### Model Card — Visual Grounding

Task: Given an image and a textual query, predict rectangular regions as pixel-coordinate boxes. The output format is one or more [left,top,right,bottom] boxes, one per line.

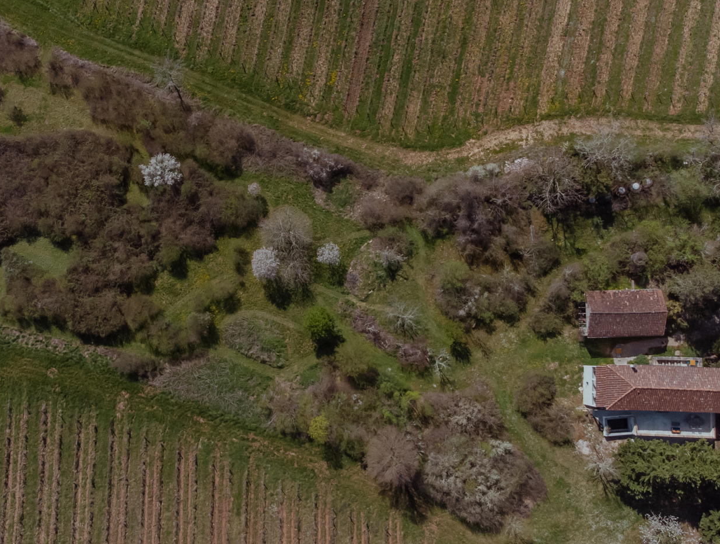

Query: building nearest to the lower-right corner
[584,363,720,414]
